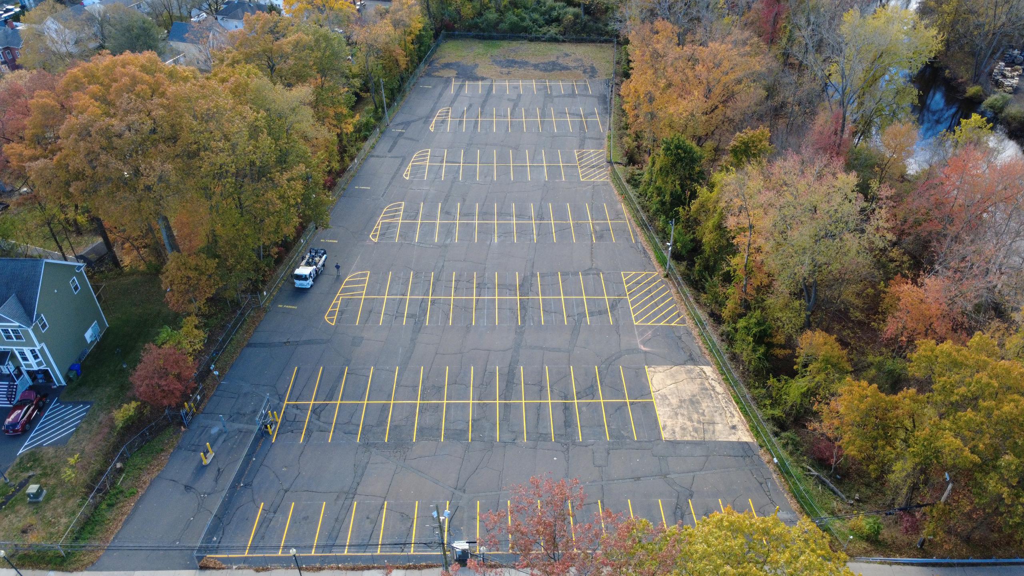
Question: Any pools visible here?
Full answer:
No, no pool can be seen from above.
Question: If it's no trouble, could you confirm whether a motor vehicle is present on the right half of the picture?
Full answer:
No, no motor vehicle is visible on the right half of the picture.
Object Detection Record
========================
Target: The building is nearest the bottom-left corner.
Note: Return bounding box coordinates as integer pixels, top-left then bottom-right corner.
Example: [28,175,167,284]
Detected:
[0,257,108,413]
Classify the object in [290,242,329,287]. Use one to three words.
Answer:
truck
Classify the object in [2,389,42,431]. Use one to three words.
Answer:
car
